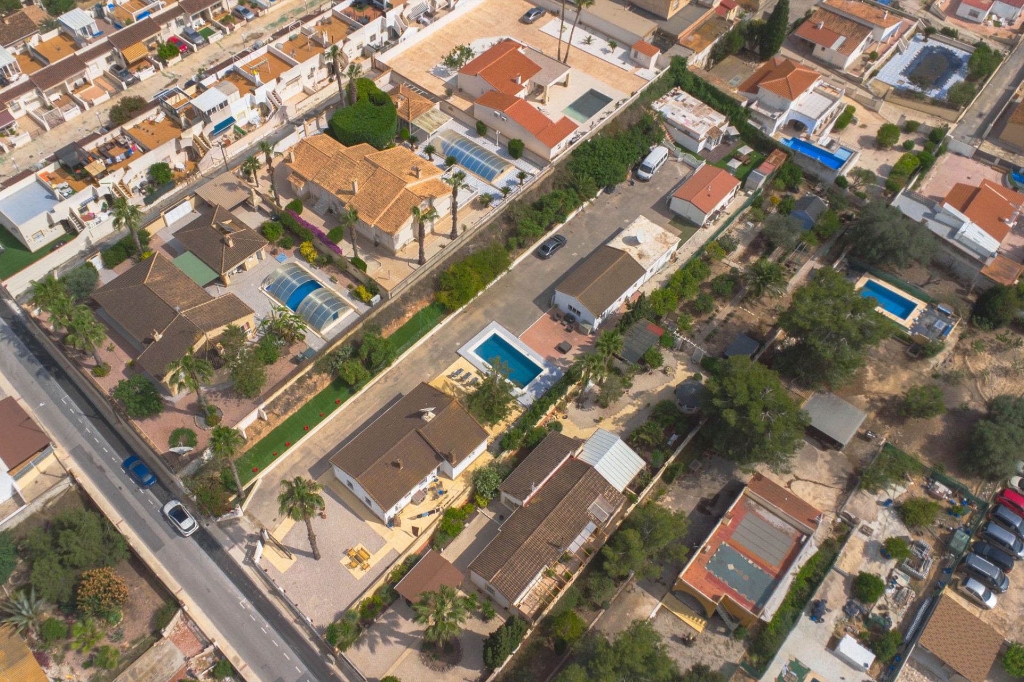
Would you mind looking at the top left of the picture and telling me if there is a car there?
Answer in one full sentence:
Yes, looking at the top left of the picture, one can make out a car.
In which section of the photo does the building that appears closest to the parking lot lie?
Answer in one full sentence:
Look in the bottom right portion of the view to spot the building that appears closest to the parking lot.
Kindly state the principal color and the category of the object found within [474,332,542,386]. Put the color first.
blue swimming pool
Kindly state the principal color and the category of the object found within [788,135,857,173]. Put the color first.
blue swimming pool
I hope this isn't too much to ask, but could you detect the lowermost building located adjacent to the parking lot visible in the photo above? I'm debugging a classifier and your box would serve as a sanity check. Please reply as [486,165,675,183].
[909,594,1009,682]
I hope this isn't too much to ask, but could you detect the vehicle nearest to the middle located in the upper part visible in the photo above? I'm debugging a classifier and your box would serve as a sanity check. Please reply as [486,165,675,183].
[537,230,568,258]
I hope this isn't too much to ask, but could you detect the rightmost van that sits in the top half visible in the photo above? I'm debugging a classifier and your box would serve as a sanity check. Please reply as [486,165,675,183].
[638,139,669,175]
